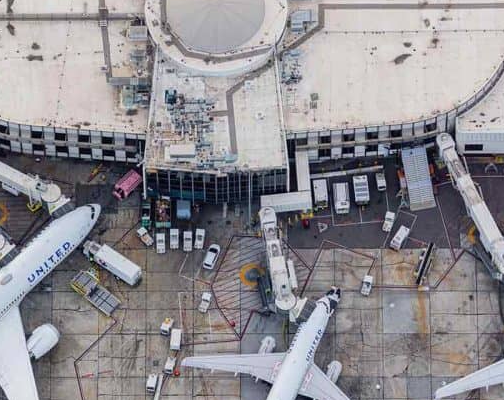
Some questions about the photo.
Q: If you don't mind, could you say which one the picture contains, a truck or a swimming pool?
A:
truck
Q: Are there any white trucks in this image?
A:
Yes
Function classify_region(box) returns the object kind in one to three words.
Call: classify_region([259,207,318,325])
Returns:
jet bridge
